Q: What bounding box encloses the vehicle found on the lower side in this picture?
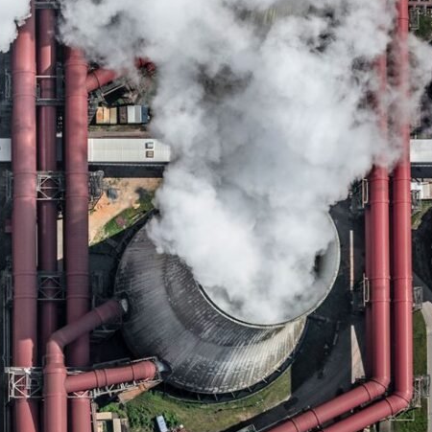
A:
[156,416,168,432]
